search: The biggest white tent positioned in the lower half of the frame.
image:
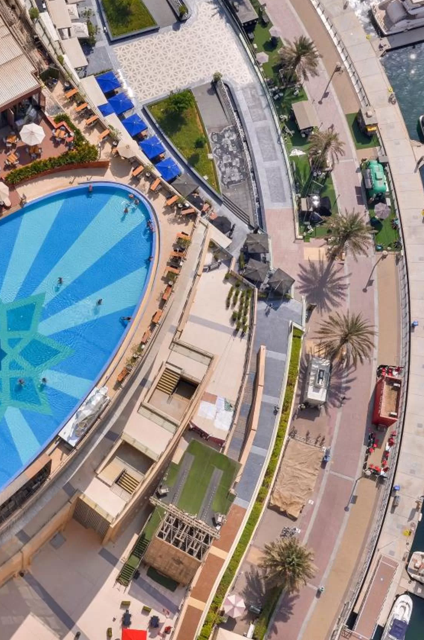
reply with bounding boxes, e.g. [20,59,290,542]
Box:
[188,392,235,445]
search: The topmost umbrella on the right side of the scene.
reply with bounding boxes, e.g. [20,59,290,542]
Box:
[266,26,283,43]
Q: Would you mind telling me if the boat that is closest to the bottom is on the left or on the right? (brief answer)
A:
right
